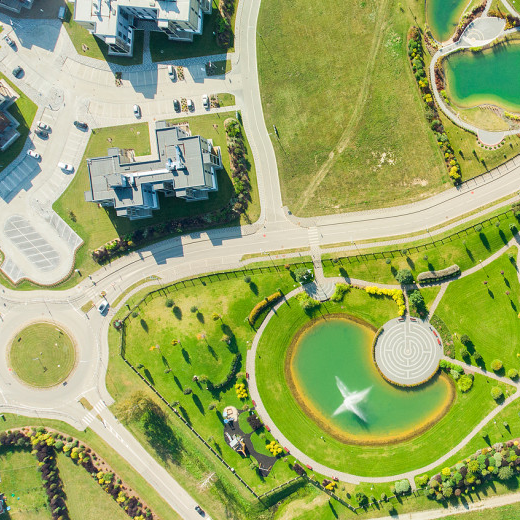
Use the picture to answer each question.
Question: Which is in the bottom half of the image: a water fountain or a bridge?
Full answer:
What appears in the bottom half of the image is a water fountain.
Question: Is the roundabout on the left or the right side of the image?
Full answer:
You can find the roundabout on the left side of the picture.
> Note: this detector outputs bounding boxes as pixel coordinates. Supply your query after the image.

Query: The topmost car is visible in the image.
[1,34,17,47]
